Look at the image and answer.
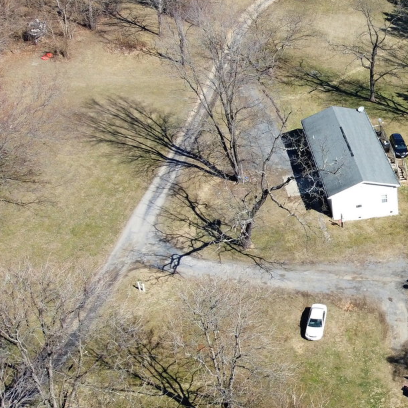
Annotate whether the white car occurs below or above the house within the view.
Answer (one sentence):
From this view, the white car can be seen below the house.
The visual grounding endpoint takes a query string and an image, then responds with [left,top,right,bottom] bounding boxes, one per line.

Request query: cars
[301,306,322,345]
[390,131,408,158]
